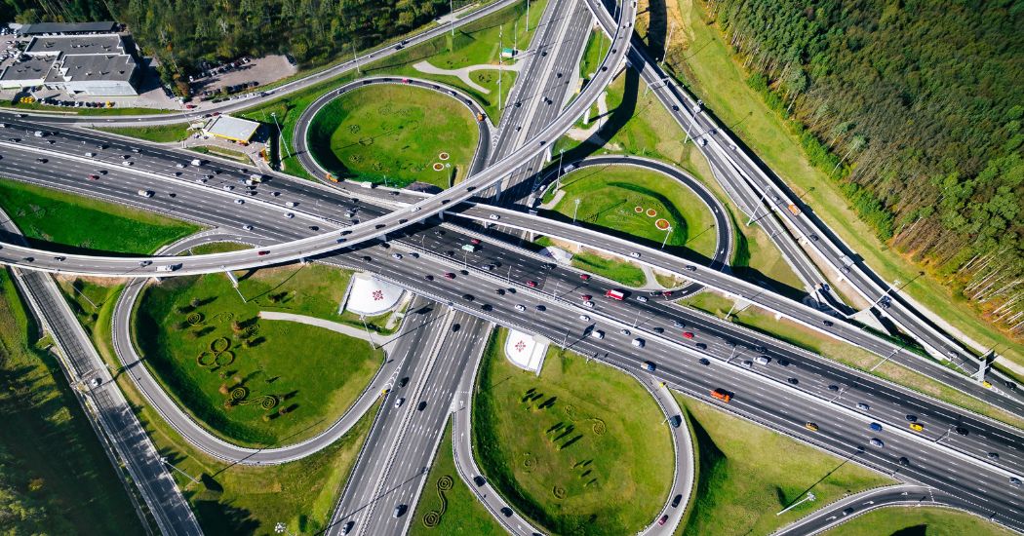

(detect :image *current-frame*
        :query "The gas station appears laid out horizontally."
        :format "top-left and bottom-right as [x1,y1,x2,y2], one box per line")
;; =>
[196,115,260,142]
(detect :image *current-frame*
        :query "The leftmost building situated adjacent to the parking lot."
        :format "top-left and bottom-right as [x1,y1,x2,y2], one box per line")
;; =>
[0,34,141,92]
